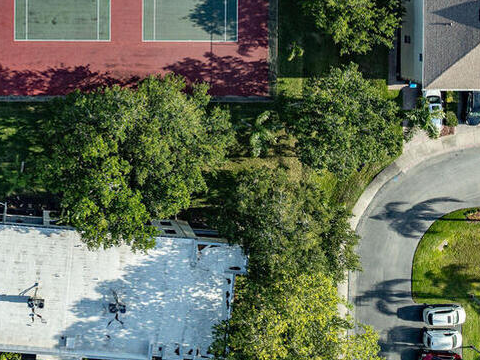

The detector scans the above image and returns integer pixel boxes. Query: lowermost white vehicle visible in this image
[426,331,465,353]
